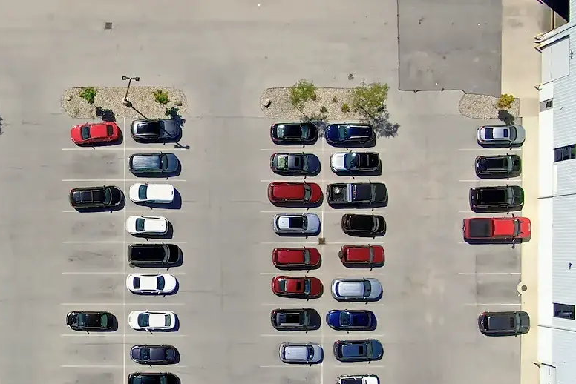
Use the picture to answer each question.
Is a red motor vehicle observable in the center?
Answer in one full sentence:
Yes, I can see a red motor vehicle in the center.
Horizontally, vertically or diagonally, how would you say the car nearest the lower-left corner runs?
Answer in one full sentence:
Seen from above, the car nearest the lower-left corner lies horizontally.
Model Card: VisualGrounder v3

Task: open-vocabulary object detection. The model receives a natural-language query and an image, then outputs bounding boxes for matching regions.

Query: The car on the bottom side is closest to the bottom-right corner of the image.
[476,311,530,335]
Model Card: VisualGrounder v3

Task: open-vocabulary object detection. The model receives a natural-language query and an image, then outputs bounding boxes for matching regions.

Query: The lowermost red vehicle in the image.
[270,275,322,298]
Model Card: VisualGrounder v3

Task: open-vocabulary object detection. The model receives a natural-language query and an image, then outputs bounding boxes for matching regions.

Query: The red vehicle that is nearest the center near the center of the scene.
[267,179,322,205]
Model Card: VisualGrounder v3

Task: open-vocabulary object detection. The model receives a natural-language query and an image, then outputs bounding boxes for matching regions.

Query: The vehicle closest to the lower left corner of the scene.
[66,309,115,333]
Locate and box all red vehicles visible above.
[461,215,532,241]
[270,275,322,298]
[71,122,119,146]
[337,244,385,267]
[271,245,321,269]
[267,179,322,205]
